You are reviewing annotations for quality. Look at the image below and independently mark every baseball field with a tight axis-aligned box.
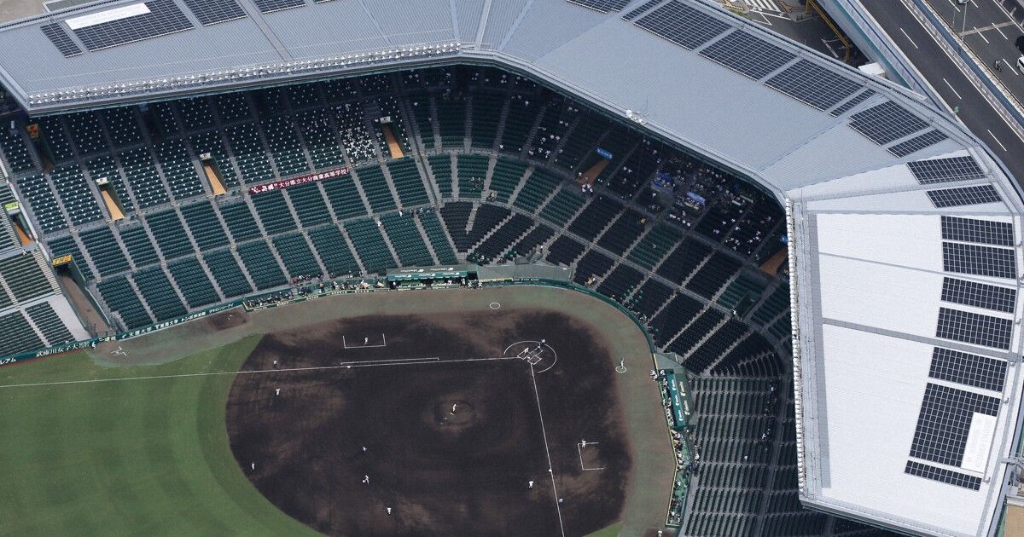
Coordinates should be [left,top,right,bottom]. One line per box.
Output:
[0,281,689,537]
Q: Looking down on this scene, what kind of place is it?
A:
sports ground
